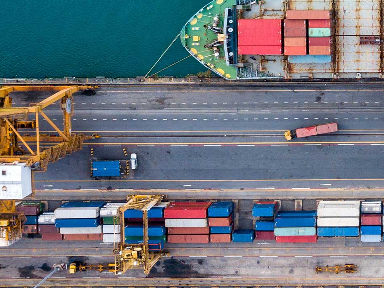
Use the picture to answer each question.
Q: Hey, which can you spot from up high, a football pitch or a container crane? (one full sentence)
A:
It is a container crane that can be seen here.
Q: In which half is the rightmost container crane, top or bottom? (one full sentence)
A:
Seen from above, the rightmost container crane lies in the bottom half of the view.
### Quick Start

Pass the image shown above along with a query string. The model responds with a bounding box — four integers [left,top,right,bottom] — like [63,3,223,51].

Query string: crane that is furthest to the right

[111,192,171,279]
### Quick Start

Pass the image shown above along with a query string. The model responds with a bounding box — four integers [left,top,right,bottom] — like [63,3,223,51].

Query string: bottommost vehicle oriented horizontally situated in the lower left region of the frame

[66,264,120,277]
